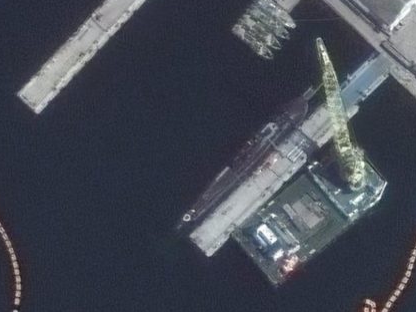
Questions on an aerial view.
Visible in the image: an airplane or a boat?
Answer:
boat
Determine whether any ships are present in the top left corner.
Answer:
No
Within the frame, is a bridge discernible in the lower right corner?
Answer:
No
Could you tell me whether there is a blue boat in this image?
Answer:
No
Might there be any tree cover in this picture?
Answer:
No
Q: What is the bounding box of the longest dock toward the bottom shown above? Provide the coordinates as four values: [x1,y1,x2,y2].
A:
[191,126,318,256]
